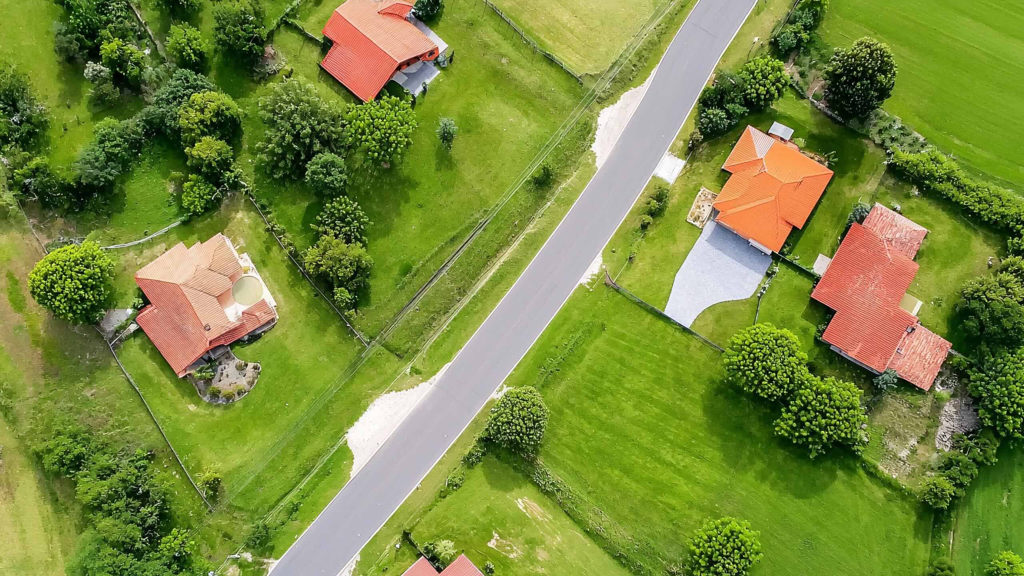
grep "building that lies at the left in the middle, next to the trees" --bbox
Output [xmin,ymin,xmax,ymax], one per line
[134,232,276,377]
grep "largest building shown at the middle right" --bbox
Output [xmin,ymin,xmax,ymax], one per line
[807,201,953,391]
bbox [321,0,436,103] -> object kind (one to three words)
house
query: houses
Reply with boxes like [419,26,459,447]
[807,201,953,391]
[321,0,436,103]
[400,551,486,576]
[712,125,834,254]
[134,232,276,377]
